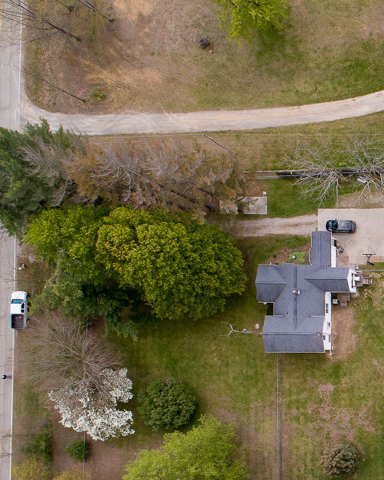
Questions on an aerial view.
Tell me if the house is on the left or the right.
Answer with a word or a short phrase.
right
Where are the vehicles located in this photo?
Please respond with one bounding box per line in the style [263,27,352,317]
[3,291,26,329]
[324,217,356,233]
